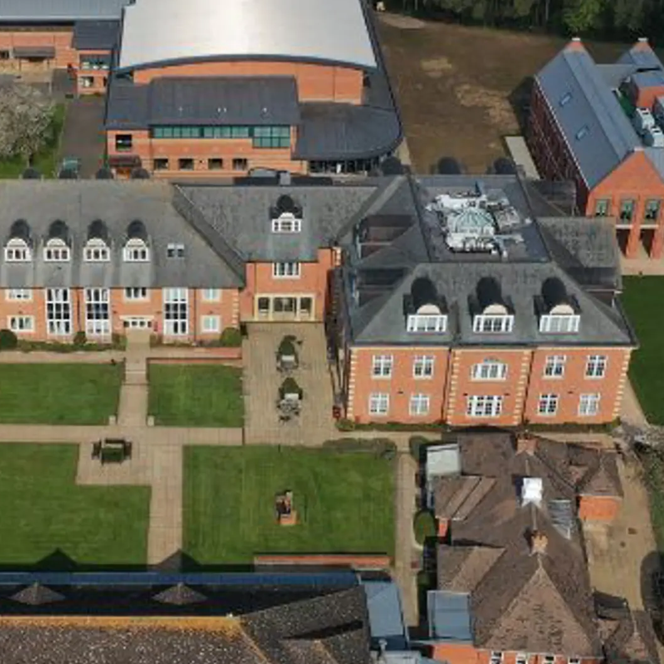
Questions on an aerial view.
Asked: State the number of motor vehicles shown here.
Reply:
0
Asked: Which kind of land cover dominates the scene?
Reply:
buildings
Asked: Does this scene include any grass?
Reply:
Yes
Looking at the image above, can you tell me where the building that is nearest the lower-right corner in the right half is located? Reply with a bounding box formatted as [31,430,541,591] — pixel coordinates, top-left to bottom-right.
[414,426,663,664]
